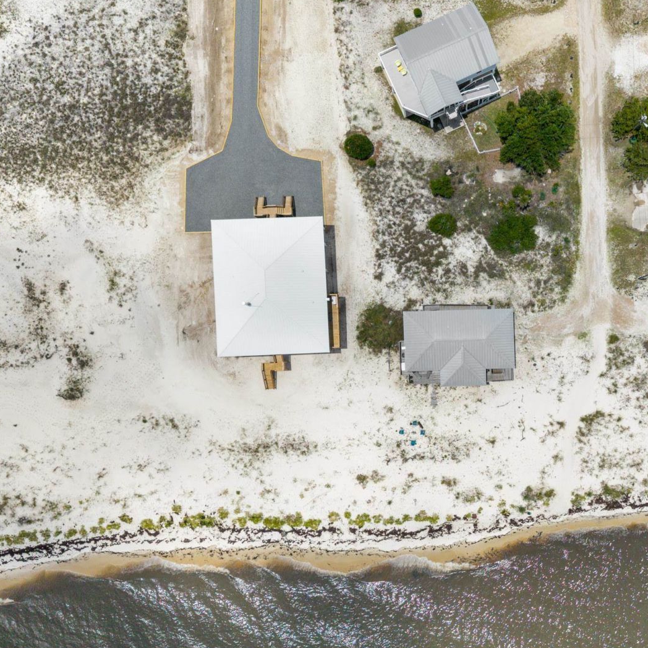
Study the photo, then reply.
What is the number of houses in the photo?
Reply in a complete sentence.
In total, 3 houses can be seen.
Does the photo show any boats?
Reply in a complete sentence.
No, the picture doesn't show any boat.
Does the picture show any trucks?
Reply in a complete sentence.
No, the scene contains no truck.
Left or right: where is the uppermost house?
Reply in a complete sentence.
You can find the uppermost house on the right side of the picture.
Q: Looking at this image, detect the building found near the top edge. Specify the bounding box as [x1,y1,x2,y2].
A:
[378,2,501,123]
